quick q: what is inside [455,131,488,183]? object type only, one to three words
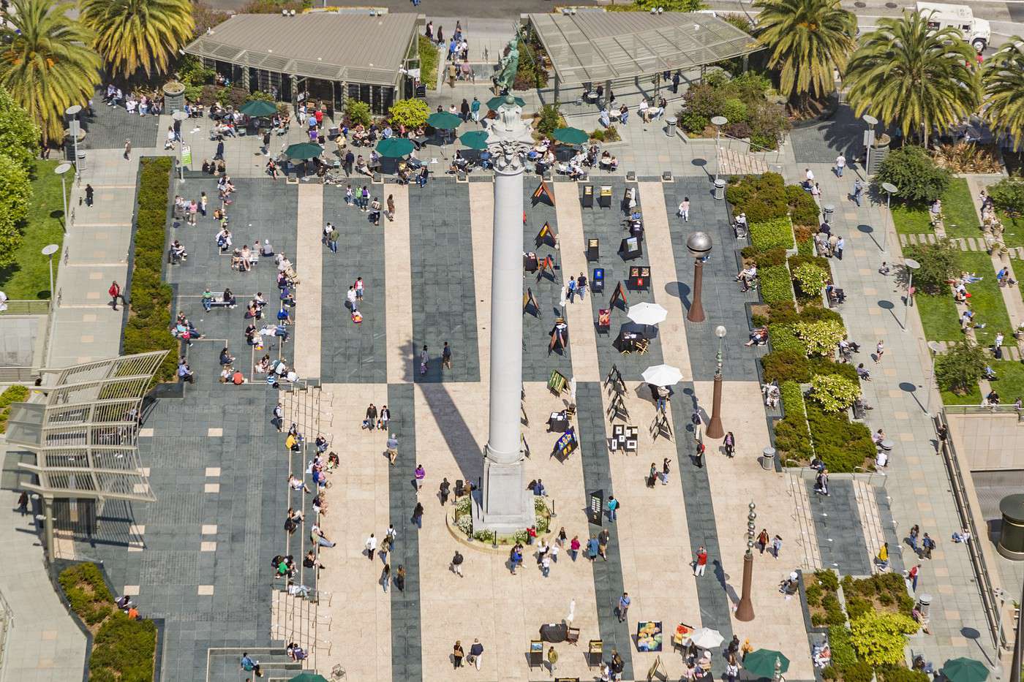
umbrella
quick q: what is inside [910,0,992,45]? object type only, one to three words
truck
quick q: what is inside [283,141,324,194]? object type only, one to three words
umbrella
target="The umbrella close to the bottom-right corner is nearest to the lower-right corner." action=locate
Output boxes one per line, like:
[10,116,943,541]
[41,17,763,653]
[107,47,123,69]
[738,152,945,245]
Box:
[936,655,994,682]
